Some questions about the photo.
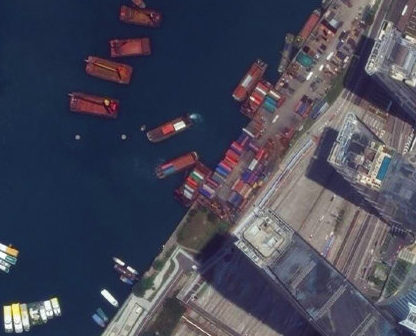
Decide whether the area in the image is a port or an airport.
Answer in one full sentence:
This looks like a port.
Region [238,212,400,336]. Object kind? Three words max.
building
